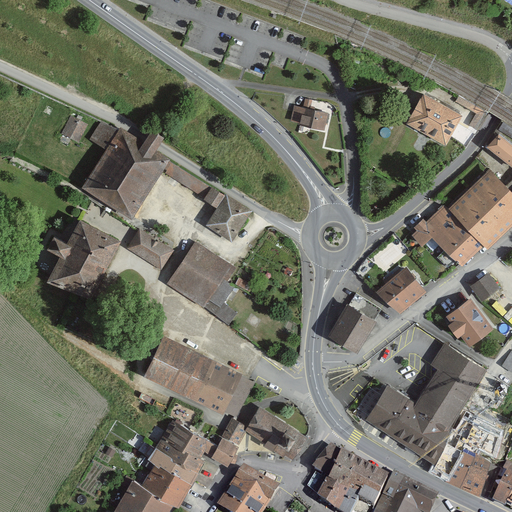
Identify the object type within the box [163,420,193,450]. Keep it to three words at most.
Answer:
building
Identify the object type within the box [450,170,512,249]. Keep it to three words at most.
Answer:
house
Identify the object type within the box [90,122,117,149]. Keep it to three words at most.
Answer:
barn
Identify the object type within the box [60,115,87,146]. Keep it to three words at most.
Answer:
shed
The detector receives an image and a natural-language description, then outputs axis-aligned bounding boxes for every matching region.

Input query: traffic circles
[300,204,366,270]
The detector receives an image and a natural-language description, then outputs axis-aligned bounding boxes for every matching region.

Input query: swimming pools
[380,126,392,138]
[497,322,510,335]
